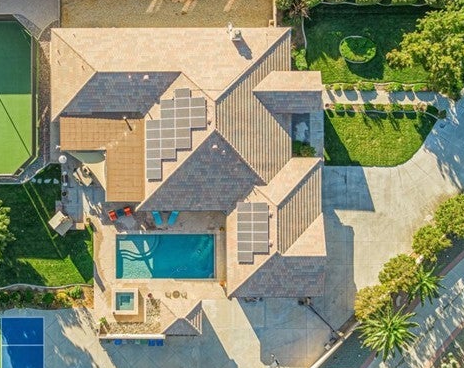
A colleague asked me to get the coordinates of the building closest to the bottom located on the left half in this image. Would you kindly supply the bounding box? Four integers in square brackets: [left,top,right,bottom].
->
[160,301,201,335]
